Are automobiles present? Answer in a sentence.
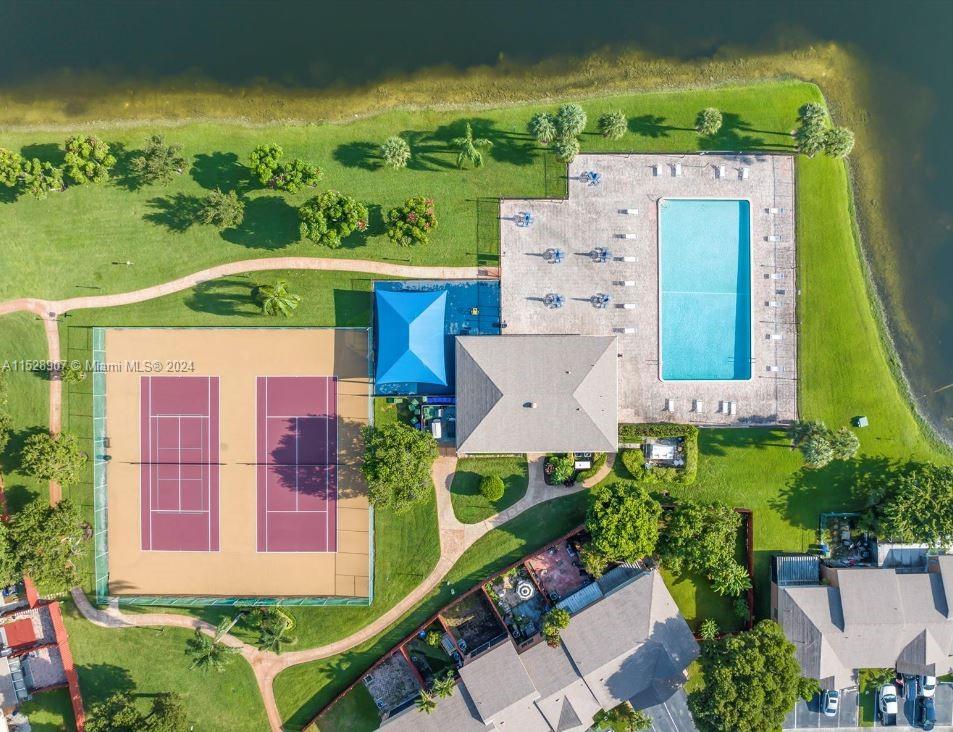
Yes, the frame does contain an automobile.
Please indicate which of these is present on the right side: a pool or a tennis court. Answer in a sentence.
The feature located on the right side is a pool.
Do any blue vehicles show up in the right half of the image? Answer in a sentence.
Yes, there is a blue vehicle in the right half of the image.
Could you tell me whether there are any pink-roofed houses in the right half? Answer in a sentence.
No, no pink-roofed house appears in the right half.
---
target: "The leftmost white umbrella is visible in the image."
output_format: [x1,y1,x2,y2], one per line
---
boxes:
[517,582,533,599]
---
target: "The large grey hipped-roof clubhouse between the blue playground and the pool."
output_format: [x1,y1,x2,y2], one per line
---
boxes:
[454,335,619,454]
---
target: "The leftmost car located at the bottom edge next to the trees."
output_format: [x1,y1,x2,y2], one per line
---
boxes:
[823,691,842,721]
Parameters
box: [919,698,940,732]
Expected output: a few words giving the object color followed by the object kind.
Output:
blue car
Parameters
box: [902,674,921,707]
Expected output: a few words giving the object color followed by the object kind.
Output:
blue car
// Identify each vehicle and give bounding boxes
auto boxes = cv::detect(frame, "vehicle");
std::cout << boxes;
[823,691,842,721]
[919,698,940,732]
[902,674,921,707]
[879,686,901,730]
[920,676,940,699]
